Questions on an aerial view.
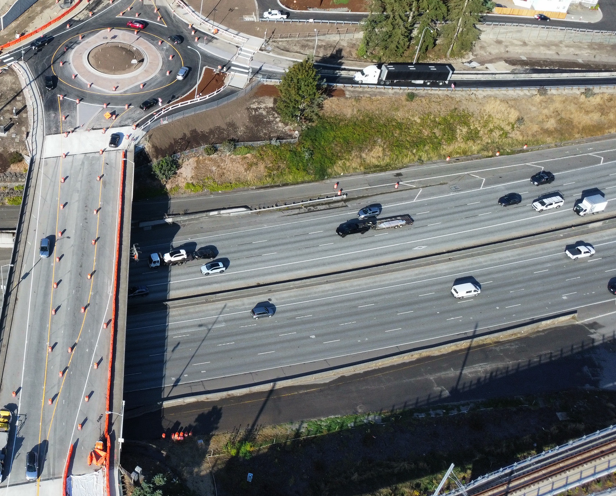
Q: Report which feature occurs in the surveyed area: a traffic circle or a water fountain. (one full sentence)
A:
This aerial view contains a traffic circle.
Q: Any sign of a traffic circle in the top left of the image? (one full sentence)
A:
Yes, looking in the top left of the image, one can make out a traffic circle.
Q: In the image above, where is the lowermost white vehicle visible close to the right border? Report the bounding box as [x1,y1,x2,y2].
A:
[562,246,596,261]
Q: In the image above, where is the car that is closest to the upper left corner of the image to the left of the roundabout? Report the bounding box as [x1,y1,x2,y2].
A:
[32,35,50,48]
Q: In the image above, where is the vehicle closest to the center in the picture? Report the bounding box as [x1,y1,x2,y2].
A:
[338,222,370,237]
